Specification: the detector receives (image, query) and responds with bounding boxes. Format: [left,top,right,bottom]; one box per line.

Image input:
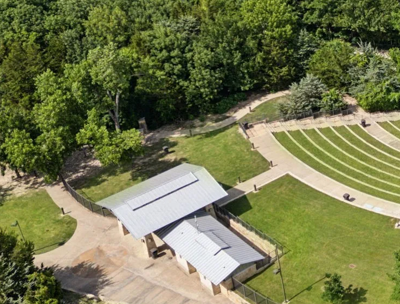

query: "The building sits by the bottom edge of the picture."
[159,212,266,303]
